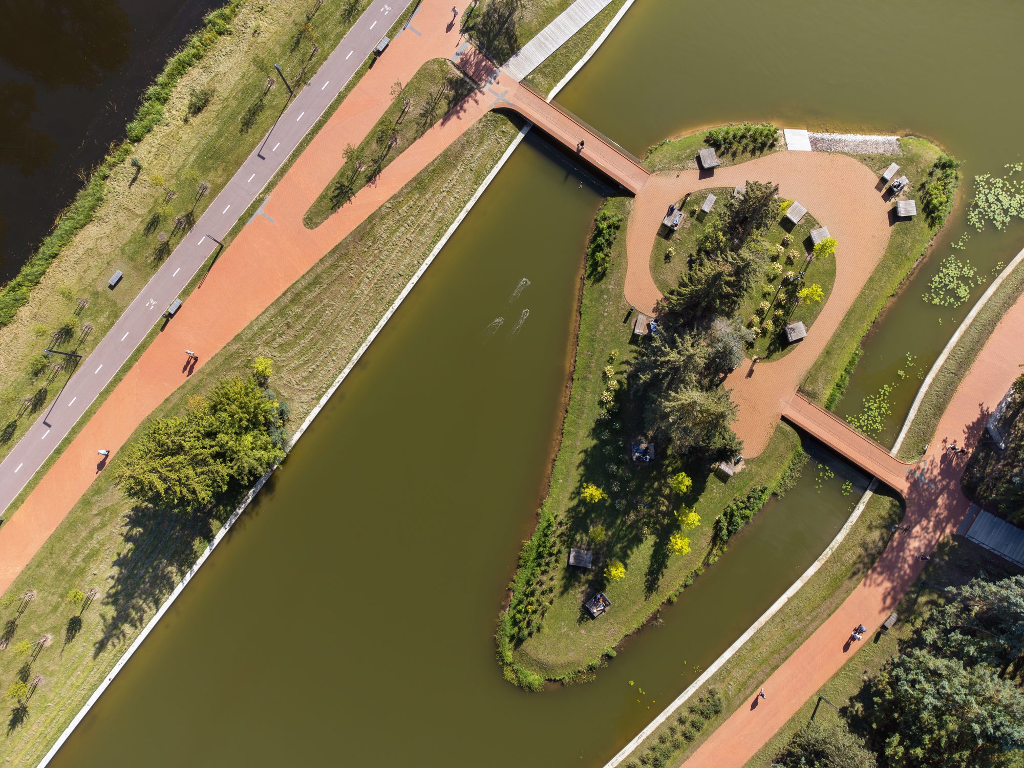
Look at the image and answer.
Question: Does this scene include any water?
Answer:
Yes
